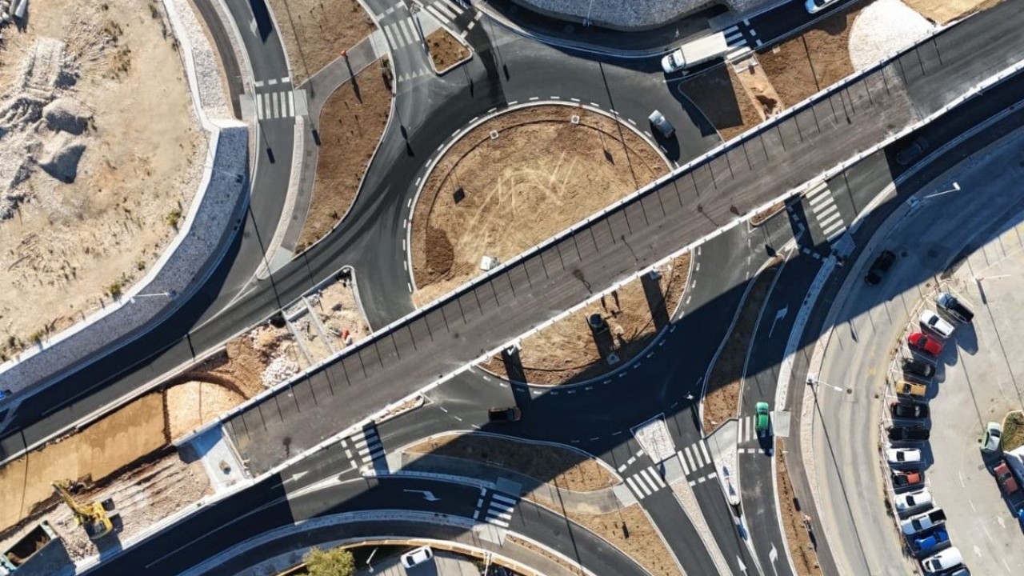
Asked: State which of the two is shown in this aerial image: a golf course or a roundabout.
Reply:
roundabout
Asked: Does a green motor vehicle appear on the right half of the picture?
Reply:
Yes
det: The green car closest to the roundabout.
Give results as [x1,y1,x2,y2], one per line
[753,400,770,431]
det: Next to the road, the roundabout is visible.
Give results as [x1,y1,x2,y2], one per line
[380,72,722,414]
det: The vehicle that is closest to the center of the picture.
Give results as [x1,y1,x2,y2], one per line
[488,405,521,422]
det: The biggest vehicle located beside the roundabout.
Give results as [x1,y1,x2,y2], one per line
[659,25,732,71]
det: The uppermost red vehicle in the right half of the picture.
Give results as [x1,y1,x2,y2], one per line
[906,332,943,357]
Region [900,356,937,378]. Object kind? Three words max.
car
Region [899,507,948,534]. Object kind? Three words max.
truck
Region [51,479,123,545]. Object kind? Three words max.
work vehicle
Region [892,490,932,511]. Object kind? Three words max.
car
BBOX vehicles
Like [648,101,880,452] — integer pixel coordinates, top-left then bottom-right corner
[0,514,70,576]
[900,356,937,378]
[980,420,1003,452]
[648,109,675,140]
[861,249,897,285]
[491,556,510,576]
[51,479,123,545]
[804,0,842,15]
[899,507,948,534]
[912,529,950,551]
[890,469,923,488]
[892,490,932,511]
[488,405,521,422]
[906,332,943,357]
[917,309,955,338]
[400,545,433,568]
[659,25,732,71]
[941,563,982,576]
[933,292,976,325]
[889,401,929,419]
[894,380,927,396]
[753,400,770,431]
[920,547,966,573]
[888,425,929,442]
[886,447,921,464]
